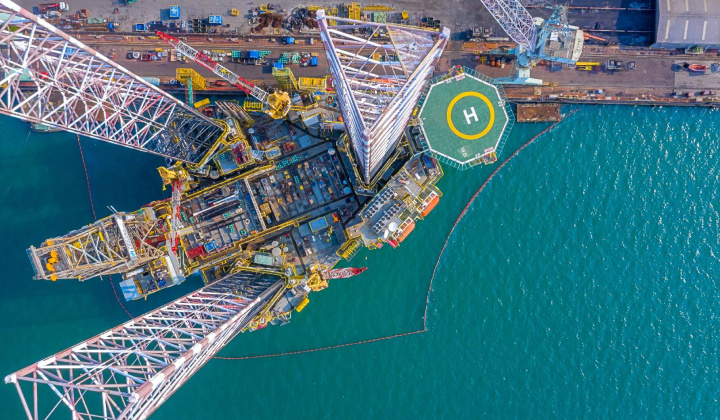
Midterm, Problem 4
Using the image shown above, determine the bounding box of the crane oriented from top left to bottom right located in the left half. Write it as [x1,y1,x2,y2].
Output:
[155,28,300,122]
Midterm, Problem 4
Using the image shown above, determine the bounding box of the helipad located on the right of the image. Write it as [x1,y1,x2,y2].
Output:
[413,64,515,170]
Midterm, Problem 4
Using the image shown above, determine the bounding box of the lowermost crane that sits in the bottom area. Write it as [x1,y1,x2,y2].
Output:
[306,265,369,288]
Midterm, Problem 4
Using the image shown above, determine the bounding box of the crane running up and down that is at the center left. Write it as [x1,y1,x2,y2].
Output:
[160,162,195,261]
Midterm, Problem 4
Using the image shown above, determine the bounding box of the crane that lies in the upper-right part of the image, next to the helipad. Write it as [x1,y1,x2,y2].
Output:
[464,0,589,93]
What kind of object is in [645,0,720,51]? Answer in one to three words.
building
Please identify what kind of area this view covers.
port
